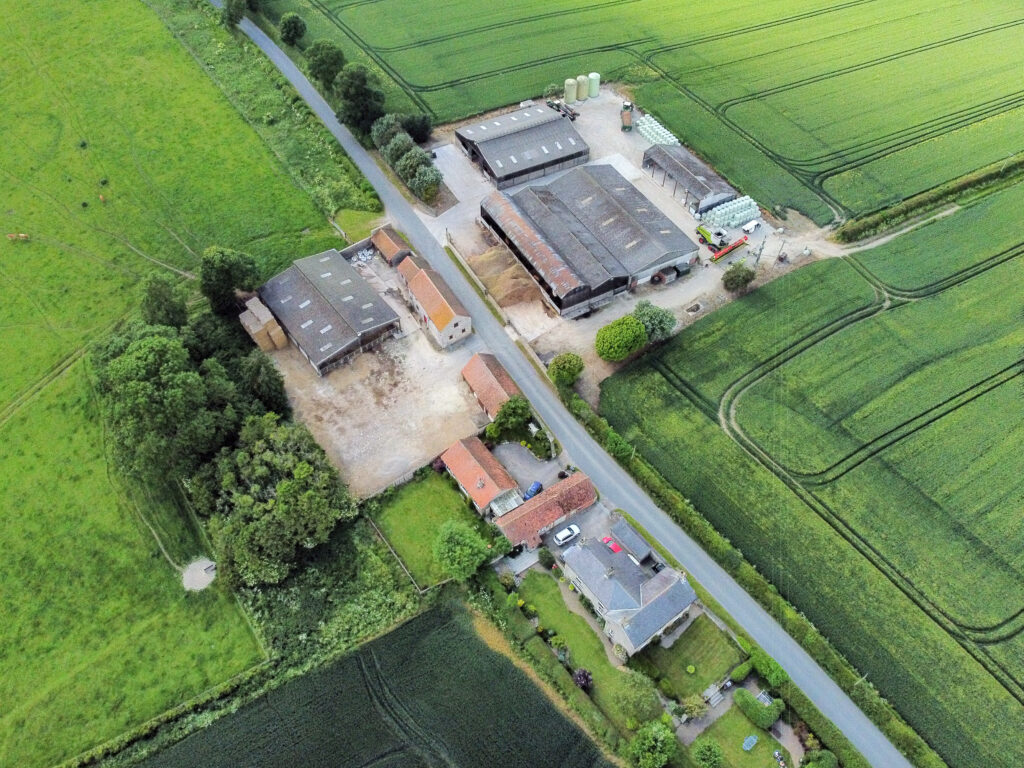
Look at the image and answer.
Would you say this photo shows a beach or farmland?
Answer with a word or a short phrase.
farmland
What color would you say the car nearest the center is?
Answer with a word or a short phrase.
blue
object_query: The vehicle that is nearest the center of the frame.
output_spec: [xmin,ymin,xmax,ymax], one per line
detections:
[522,477,544,502]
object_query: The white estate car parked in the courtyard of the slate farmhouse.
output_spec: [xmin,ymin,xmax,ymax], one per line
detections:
[552,525,581,548]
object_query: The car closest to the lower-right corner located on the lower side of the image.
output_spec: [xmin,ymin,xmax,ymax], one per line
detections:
[648,561,671,576]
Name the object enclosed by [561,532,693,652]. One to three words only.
house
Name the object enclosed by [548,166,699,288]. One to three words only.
shed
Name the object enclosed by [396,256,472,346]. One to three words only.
barn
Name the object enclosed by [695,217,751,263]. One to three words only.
work vehicle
